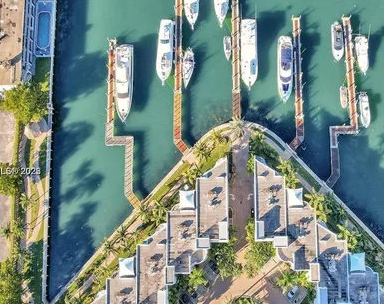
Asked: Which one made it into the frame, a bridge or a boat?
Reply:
boat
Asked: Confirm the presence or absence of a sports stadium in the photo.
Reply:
No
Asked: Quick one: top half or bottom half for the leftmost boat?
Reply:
top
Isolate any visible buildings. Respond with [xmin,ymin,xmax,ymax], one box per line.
[89,158,229,304]
[254,157,384,304]
[0,0,38,93]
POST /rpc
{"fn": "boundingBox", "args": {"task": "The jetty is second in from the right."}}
[285,12,307,153]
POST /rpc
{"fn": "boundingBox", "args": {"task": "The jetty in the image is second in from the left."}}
[170,0,191,158]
